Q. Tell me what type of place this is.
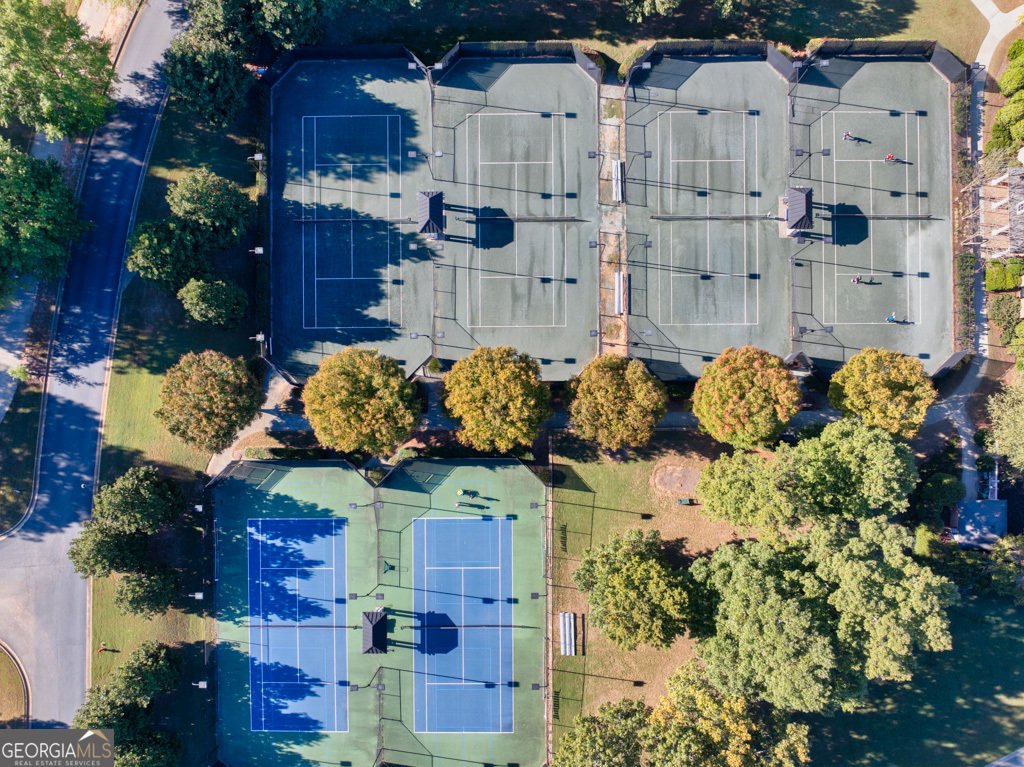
sports ground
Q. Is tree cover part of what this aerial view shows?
Yes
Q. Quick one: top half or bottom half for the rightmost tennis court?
top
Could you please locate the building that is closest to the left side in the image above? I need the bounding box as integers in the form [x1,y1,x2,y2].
[361,608,388,654]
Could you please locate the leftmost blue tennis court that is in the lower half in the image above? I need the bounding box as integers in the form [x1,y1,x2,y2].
[214,460,381,767]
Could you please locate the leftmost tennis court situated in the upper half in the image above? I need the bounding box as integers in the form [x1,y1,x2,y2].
[272,59,433,380]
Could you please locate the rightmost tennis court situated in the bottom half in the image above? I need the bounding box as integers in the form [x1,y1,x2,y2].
[374,458,546,767]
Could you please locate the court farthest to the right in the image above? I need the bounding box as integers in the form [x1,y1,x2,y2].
[790,56,952,377]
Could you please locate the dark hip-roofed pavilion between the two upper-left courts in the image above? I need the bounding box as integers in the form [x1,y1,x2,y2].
[418,189,446,241]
